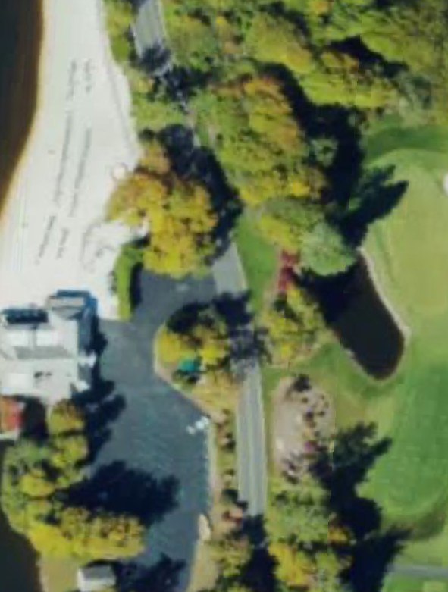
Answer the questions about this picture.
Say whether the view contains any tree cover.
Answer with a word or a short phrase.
Yes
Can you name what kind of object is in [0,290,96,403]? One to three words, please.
house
